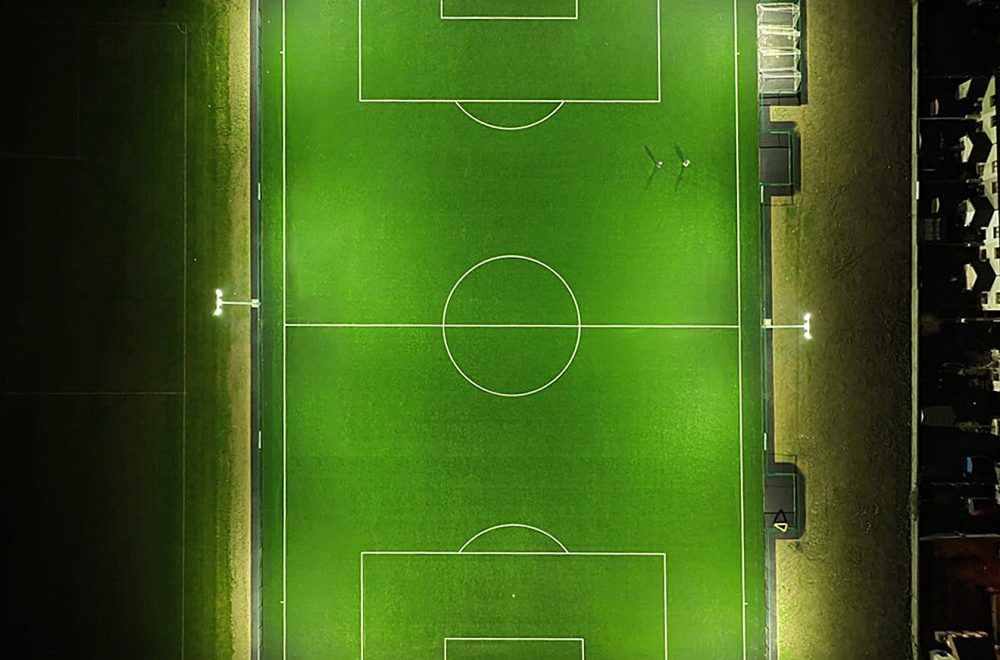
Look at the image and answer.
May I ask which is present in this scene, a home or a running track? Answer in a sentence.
There is a home in the scene.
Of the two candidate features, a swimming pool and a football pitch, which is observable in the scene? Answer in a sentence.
I can see a football pitch in this picture.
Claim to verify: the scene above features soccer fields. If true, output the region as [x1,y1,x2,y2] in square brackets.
[261,0,768,660]
[0,22,184,660]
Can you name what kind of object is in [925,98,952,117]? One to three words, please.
shed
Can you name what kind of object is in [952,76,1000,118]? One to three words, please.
house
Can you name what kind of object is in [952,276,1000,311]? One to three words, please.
house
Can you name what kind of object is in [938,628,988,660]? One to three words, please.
shed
